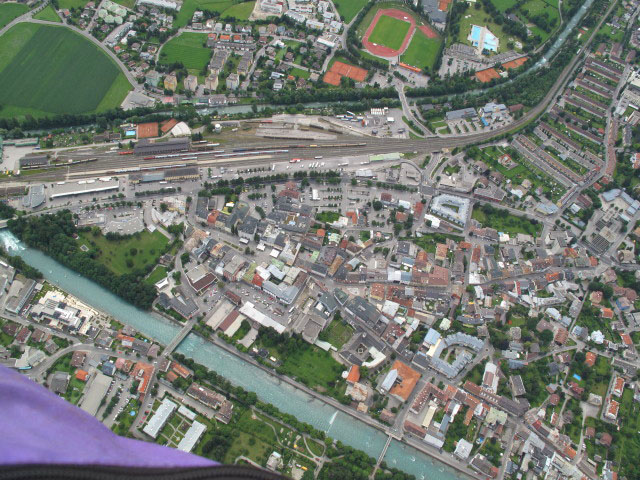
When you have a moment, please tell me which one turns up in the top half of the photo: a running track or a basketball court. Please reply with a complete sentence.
It is a running track that can be seen in the top half of the photo.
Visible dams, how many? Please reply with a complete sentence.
There are no dams in the image.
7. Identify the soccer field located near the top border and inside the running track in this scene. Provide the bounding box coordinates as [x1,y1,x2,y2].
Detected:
[368,15,409,50]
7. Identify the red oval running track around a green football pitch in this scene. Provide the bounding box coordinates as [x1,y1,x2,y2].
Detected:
[362,8,414,58]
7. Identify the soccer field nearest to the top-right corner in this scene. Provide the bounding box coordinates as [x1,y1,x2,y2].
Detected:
[408,30,440,64]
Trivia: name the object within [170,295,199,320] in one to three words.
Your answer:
building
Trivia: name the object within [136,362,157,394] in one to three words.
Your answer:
house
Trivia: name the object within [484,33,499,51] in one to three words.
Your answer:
swimming pool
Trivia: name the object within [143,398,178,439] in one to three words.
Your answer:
building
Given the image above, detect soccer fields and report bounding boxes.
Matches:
[408,30,440,64]
[368,15,409,50]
